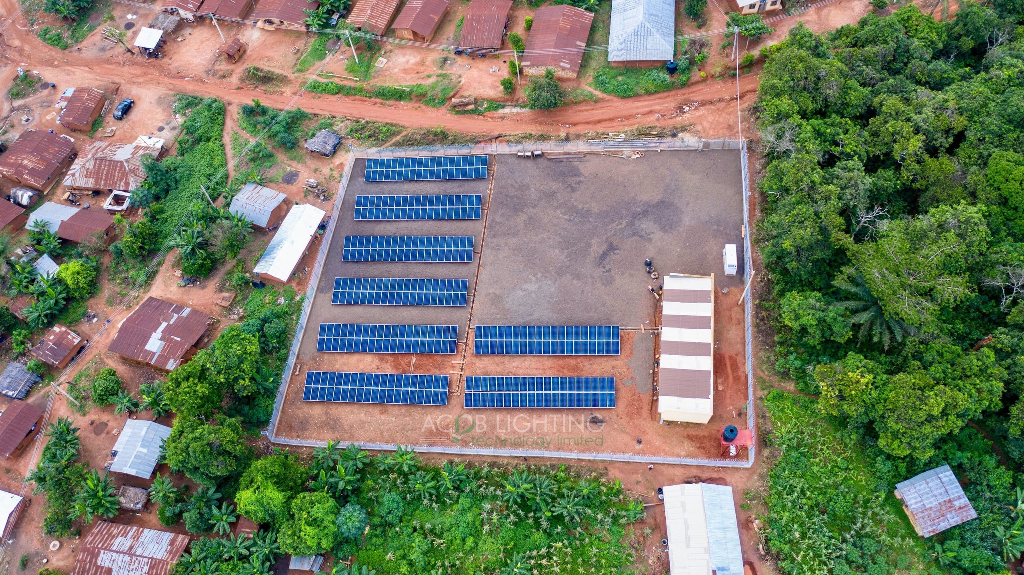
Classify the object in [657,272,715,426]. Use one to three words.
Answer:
building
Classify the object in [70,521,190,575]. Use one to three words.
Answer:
house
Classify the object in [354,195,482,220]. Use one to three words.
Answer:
solar array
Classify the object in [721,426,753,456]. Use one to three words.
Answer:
water tower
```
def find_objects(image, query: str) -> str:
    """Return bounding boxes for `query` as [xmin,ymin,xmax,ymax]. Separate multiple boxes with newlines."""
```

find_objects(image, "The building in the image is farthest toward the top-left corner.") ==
[54,87,105,134]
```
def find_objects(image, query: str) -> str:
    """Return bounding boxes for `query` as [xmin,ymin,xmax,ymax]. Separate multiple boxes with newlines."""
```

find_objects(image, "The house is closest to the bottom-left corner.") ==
[0,489,31,541]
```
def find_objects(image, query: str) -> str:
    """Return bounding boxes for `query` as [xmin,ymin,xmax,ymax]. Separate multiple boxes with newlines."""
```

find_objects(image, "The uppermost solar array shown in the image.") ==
[364,158,488,182]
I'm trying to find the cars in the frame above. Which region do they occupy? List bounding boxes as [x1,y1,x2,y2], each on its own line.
[112,98,132,119]
[327,7,347,26]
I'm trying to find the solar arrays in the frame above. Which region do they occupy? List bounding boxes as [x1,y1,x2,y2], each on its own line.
[354,195,482,220]
[473,325,619,357]
[303,371,449,405]
[332,278,468,306]
[464,376,615,413]
[342,236,474,262]
[364,158,488,182]
[317,323,457,354]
